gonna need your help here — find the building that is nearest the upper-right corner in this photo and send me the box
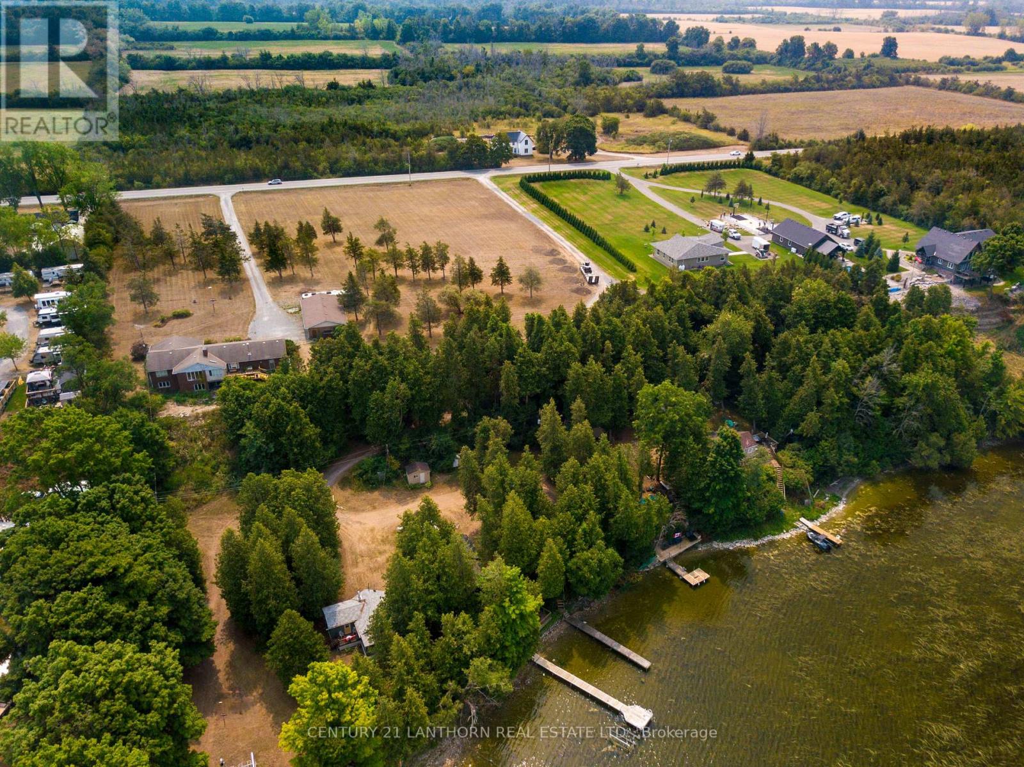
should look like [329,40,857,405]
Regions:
[917,230,1001,282]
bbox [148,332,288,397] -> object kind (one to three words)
house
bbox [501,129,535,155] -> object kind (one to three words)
house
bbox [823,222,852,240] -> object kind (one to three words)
vehicle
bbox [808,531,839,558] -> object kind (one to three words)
boat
